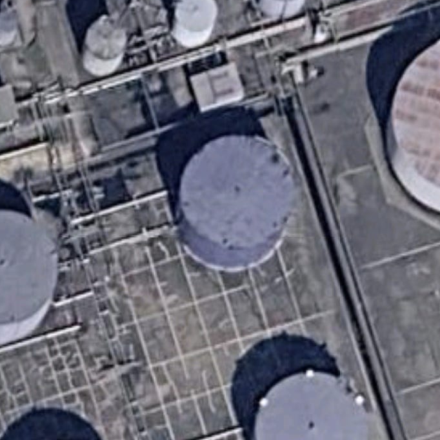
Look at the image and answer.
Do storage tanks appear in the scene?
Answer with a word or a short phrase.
Yes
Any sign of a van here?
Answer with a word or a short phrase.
No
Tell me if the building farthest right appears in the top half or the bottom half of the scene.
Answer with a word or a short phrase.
top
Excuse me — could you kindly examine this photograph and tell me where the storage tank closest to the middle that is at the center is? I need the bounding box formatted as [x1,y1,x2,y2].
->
[171,132,295,272]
